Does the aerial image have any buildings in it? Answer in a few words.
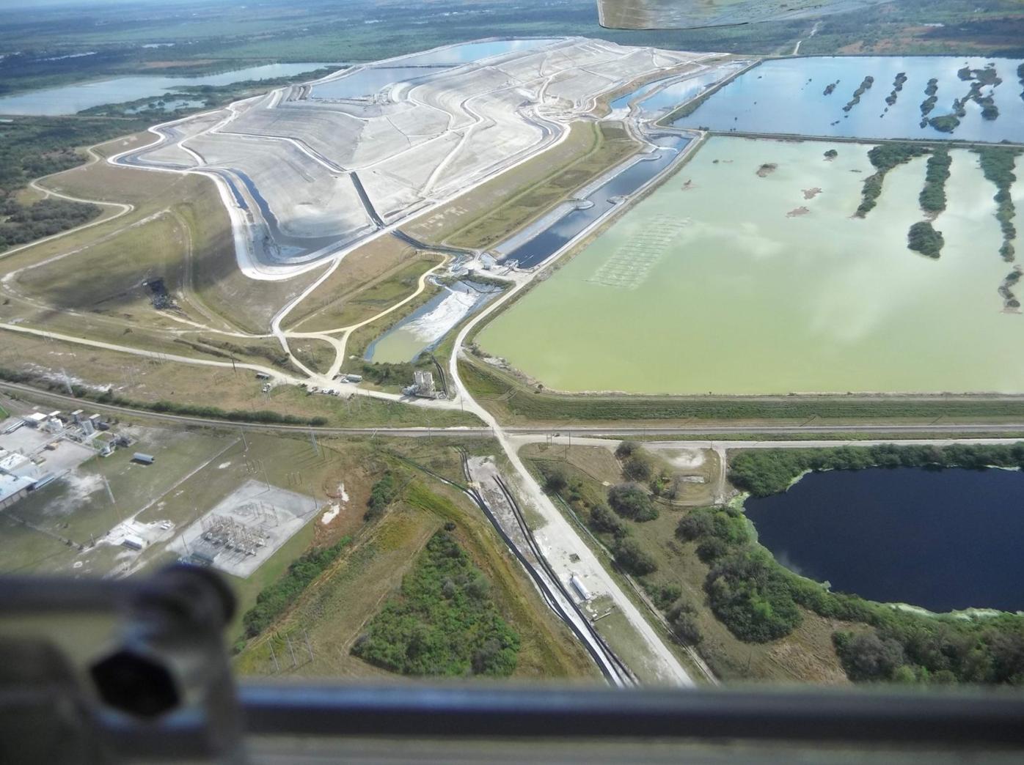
Yes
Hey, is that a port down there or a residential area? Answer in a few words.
port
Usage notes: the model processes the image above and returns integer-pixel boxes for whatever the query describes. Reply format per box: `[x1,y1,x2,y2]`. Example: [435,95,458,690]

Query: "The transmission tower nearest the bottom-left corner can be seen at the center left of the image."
[60,368,75,397]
